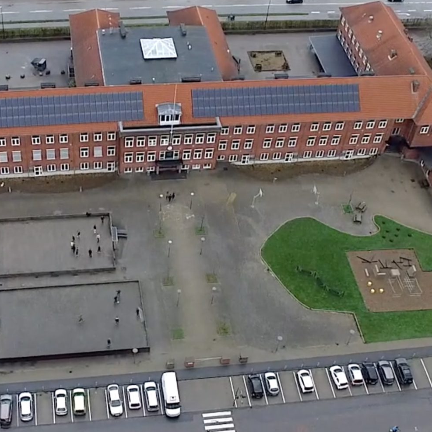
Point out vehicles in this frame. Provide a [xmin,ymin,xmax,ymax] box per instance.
[52,389,68,417]
[125,385,141,411]
[247,374,265,400]
[392,358,415,386]
[70,389,85,417]
[262,372,280,397]
[160,369,183,419]
[17,392,33,423]
[360,362,380,387]
[345,362,366,389]
[375,360,398,388]
[328,363,350,393]
[141,382,159,412]
[106,385,124,417]
[295,367,316,397]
